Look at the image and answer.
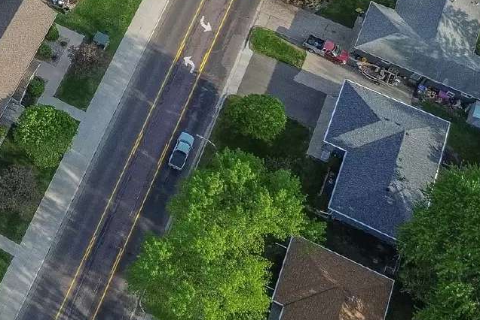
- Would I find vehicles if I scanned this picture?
Yes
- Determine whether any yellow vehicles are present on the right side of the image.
No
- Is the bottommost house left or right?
right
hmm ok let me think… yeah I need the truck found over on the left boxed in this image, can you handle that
[164,127,198,176]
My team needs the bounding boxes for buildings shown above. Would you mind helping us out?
[349,0,480,105]
[264,241,382,320]
[320,79,449,251]
[0,0,59,119]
